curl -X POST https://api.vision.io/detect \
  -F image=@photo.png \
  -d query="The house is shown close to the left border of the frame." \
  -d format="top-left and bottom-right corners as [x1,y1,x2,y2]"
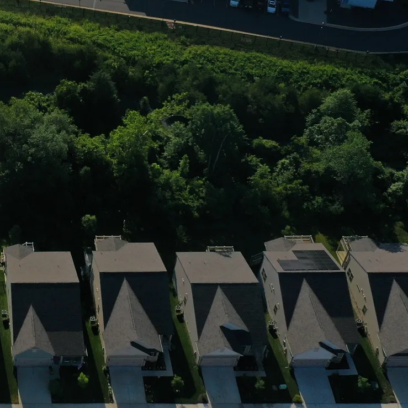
[6,235,83,368]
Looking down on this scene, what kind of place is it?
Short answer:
residential area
